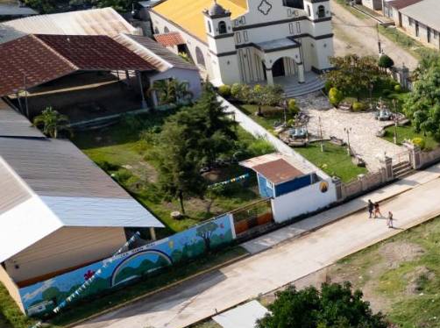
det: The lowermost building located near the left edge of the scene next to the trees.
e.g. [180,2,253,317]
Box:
[0,135,165,312]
